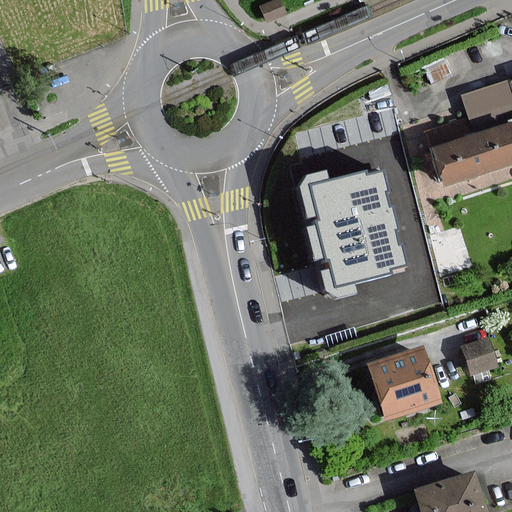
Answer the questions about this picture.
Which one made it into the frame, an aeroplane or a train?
train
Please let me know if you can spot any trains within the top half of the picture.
Yes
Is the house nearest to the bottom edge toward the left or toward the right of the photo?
right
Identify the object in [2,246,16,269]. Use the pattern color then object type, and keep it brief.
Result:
white vehicle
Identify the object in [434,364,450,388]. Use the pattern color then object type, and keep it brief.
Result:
white car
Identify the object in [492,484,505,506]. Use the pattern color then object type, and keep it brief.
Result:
white vehicle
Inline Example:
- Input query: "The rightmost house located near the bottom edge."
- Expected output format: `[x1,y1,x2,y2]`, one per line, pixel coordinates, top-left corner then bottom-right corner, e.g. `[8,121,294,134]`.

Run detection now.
[414,471,488,512]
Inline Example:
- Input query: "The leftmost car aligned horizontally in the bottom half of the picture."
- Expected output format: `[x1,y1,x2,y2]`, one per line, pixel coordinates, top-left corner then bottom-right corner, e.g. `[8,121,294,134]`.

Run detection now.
[344,475,370,488]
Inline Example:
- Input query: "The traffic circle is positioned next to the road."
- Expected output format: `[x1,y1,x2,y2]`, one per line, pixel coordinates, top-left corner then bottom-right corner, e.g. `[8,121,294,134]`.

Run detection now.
[122,20,278,192]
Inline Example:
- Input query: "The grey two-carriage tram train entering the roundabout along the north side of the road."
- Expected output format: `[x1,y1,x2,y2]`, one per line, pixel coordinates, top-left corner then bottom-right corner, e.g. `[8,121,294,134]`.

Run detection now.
[231,7,372,76]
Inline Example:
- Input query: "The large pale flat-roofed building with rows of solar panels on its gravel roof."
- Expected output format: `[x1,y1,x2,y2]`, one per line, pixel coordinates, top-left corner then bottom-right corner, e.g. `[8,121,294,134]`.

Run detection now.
[300,169,408,301]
